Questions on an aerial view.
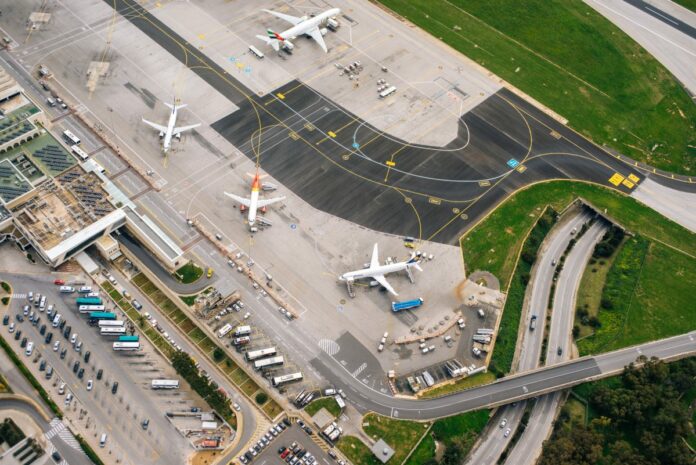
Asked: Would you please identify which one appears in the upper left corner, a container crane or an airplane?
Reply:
airplane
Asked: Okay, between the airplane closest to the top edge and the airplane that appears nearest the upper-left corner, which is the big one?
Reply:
the airplane closest to the top edge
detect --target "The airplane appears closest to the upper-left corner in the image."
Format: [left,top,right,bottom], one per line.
[142,97,203,152]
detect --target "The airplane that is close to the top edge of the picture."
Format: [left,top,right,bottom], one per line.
[254,8,341,52]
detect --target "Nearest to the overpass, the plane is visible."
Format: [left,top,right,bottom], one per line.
[343,241,421,296]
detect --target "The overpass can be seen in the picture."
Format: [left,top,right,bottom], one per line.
[432,326,696,421]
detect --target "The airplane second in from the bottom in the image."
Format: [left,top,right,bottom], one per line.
[224,167,287,226]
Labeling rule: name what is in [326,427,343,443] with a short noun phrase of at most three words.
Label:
vehicle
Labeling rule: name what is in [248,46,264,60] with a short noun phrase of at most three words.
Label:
vehicle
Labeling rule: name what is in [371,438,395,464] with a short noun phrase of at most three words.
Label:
building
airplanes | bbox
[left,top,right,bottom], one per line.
[254,8,341,52]
[142,97,203,152]
[343,241,421,296]
[224,167,287,226]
